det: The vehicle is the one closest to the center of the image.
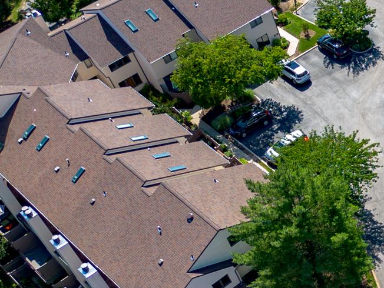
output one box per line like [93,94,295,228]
[225,105,273,139]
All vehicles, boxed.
[317,34,353,58]
[225,105,273,139]
[263,129,296,159]
[276,58,313,83]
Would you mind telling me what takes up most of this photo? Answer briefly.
buildings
